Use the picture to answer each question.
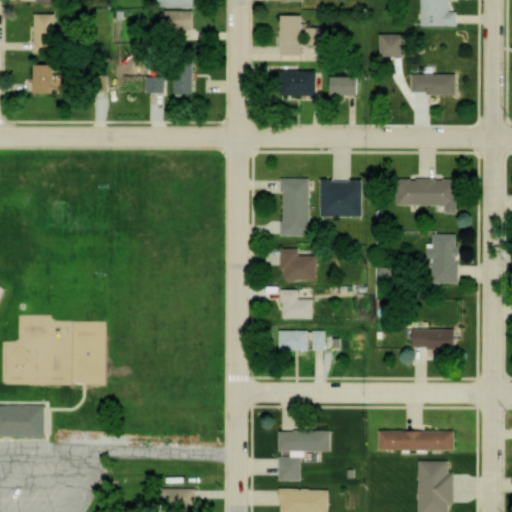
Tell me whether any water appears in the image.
No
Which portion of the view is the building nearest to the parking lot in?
bottom left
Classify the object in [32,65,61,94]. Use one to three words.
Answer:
house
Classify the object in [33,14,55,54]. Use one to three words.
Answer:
house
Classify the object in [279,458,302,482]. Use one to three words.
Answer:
building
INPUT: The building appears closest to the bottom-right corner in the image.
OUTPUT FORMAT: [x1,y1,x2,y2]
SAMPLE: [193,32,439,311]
[418,462,454,512]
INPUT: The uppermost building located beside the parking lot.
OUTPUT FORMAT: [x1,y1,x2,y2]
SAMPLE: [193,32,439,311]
[0,406,44,438]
